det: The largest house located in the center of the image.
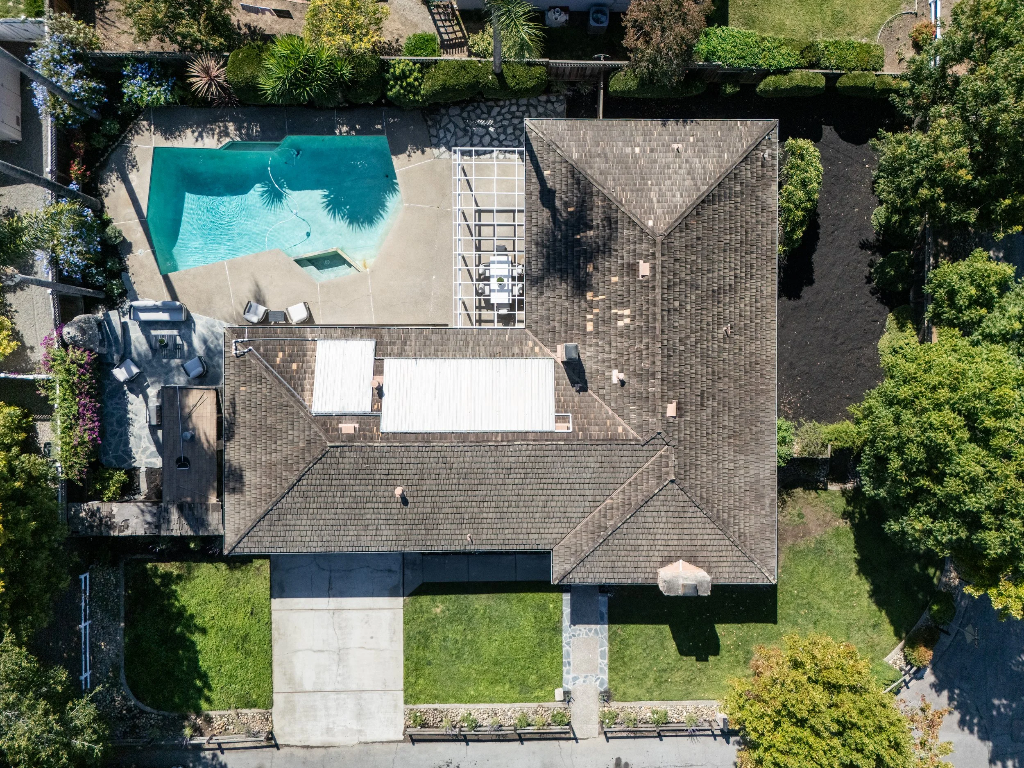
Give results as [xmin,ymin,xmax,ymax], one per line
[220,115,781,596]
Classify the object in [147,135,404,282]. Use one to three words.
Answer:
swimming pool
